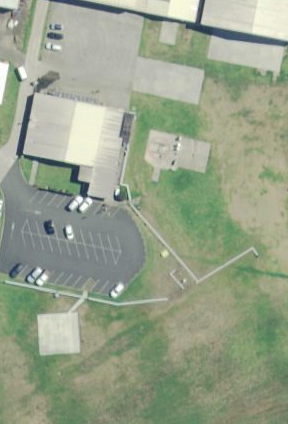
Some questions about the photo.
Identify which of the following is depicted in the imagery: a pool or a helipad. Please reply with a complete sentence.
Visible in the photo is a helipad.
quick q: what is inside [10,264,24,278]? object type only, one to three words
car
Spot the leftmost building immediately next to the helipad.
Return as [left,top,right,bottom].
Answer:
[22,92,124,200]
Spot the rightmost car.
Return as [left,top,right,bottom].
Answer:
[110,282,124,298]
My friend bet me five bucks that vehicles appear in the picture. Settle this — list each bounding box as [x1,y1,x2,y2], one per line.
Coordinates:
[110,282,124,298]
[66,226,73,240]
[46,32,62,40]
[68,196,83,210]
[27,268,42,282]
[36,270,51,286]
[46,220,54,234]
[10,264,24,278]
[49,24,63,30]
[45,43,61,50]
[78,198,92,212]
[16,64,28,83]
